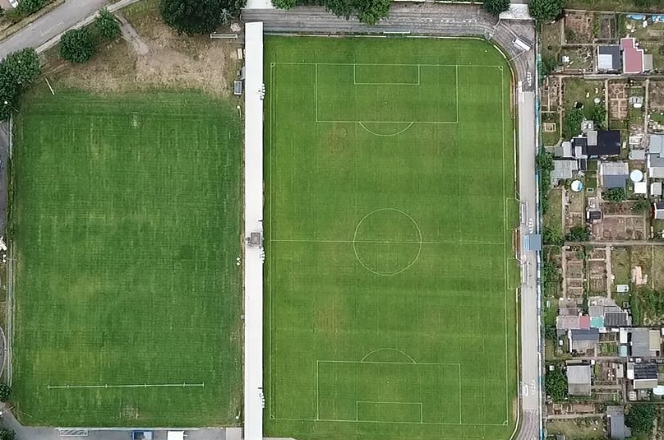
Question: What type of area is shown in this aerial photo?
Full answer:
What you see here is a sports ground.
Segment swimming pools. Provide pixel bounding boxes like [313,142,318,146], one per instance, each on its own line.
[570,180,583,191]
[630,169,643,181]
[653,384,664,394]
